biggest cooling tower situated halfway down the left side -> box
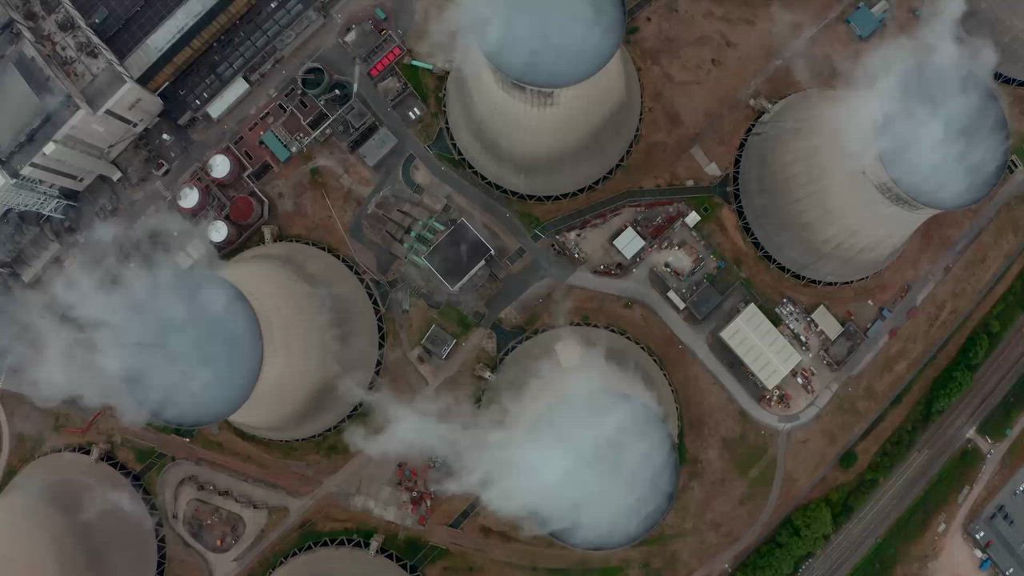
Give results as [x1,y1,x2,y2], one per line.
[104,237,386,439]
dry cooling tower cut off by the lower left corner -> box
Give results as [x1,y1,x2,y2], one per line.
[0,444,170,576]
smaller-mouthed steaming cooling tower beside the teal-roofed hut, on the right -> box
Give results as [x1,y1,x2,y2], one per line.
[724,75,1011,294]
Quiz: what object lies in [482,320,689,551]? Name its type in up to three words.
cooling tower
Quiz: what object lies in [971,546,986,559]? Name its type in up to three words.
vehicle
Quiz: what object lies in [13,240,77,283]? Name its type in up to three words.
house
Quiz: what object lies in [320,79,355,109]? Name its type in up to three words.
storage tank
